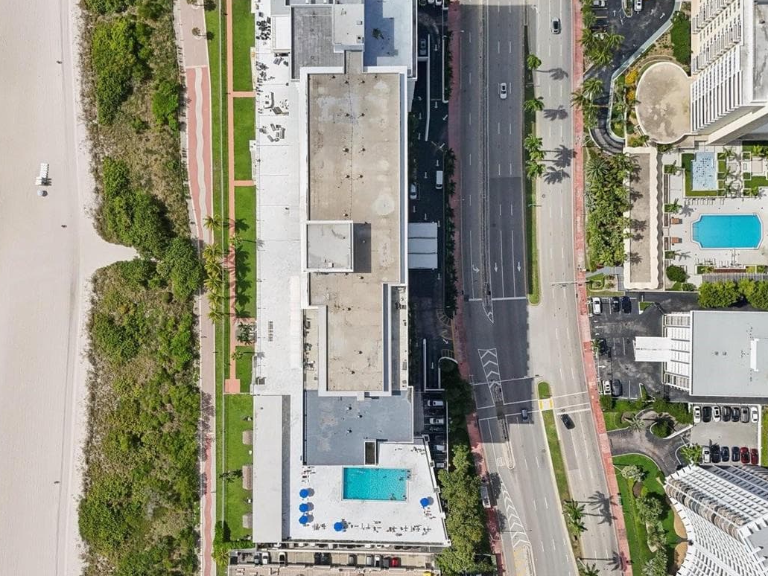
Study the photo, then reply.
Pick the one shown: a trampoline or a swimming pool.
swimming pool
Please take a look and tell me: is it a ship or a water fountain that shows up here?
water fountain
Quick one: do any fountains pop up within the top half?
Yes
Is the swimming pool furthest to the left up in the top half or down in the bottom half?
bottom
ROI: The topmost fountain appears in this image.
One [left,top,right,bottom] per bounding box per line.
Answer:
[692,152,717,191]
